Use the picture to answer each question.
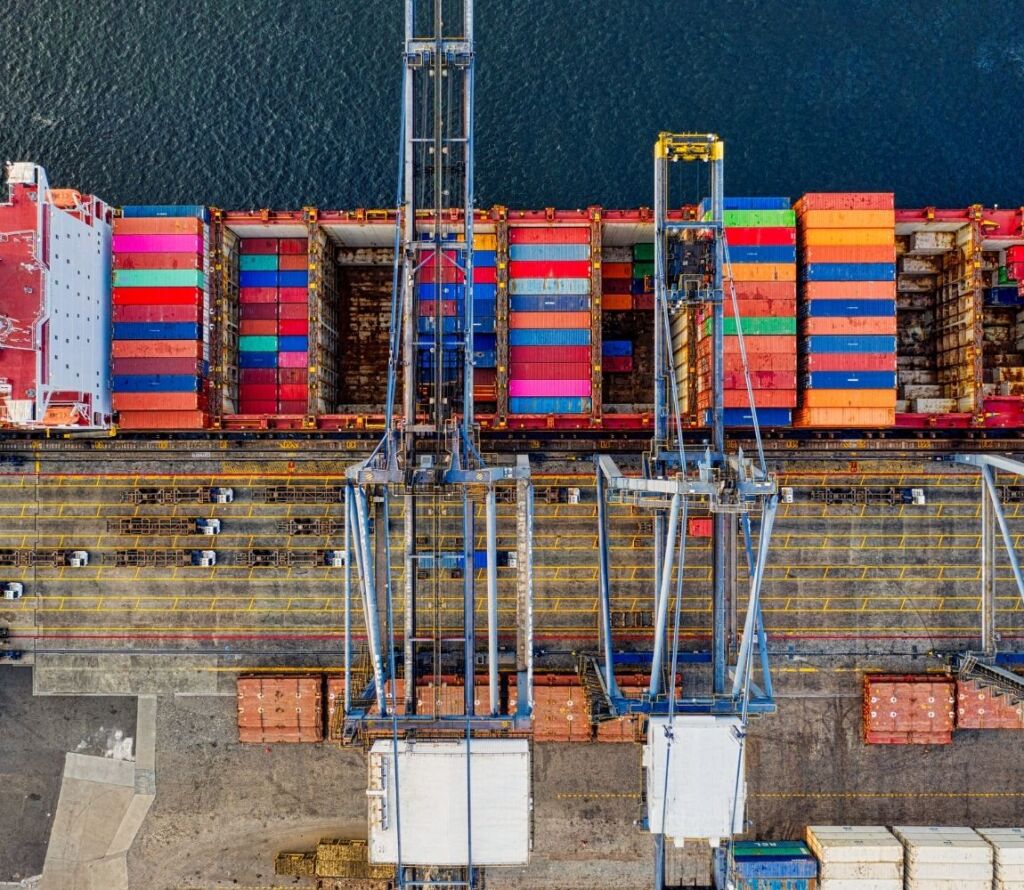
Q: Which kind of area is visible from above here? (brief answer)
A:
port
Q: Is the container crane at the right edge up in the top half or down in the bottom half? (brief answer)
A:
bottom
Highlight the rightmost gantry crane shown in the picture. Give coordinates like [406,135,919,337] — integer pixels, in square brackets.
[909,454,1024,713]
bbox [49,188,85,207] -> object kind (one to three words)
boat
